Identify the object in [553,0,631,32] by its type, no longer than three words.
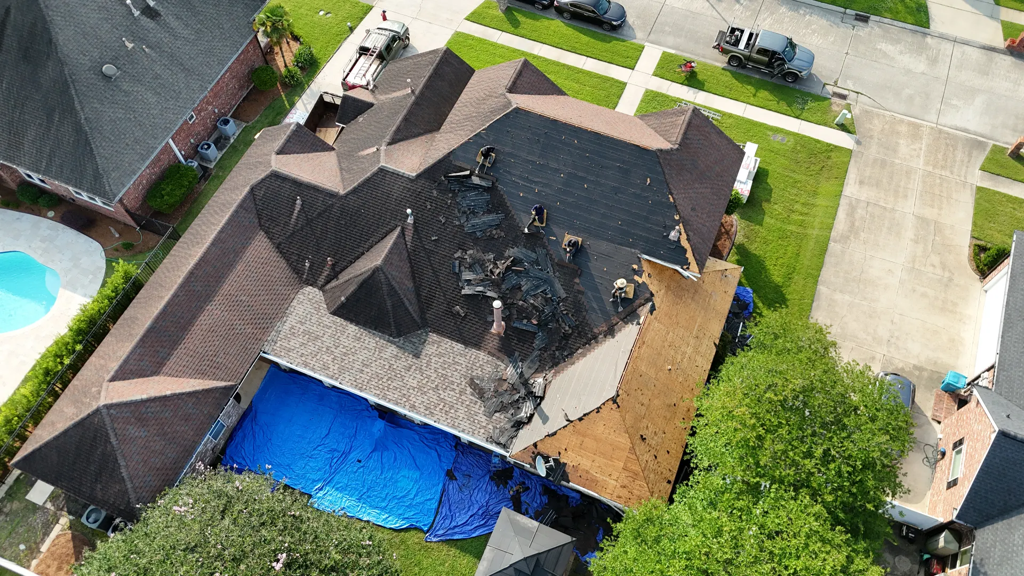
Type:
car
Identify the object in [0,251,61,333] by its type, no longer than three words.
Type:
swimming pool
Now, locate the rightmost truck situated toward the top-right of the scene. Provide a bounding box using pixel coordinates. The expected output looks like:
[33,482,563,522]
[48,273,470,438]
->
[710,27,818,85]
